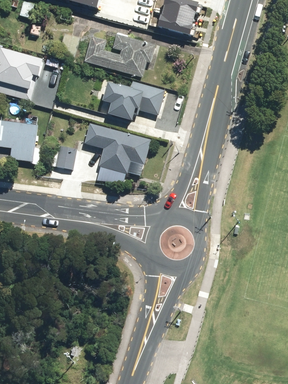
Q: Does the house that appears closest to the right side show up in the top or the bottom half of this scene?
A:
top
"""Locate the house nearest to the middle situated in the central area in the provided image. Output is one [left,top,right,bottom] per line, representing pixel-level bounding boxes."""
[84,124,150,184]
